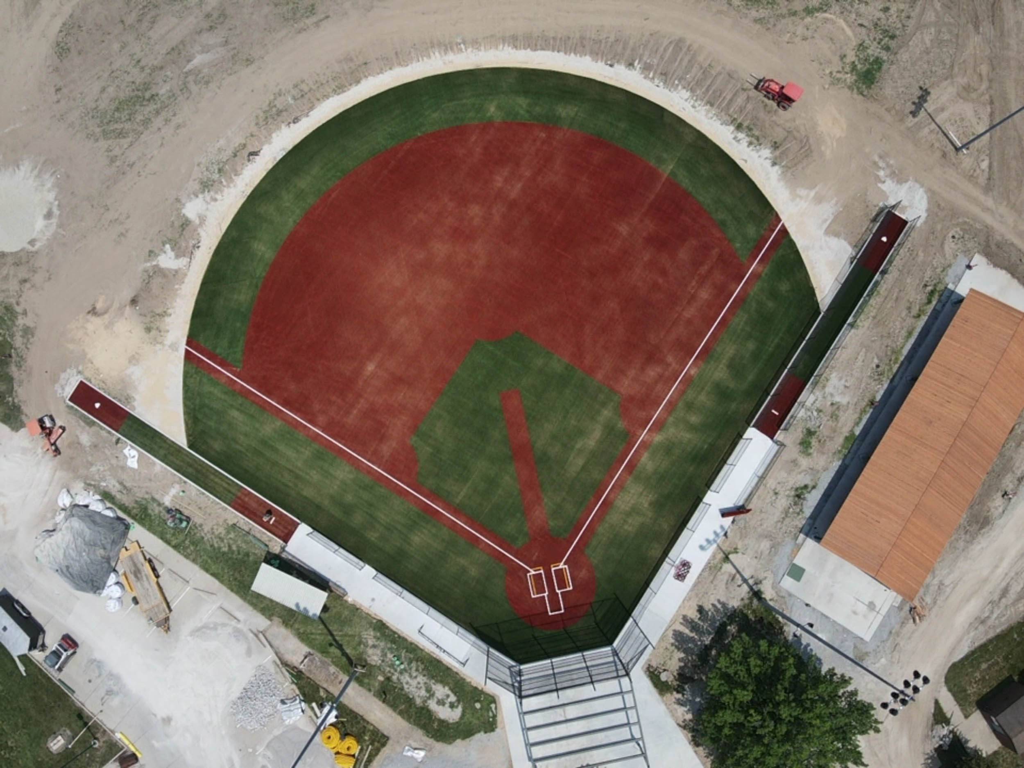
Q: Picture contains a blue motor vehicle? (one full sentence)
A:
No, no blue motor vehicle can be seen from above.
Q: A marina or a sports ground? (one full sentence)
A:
What you see here is a sports ground.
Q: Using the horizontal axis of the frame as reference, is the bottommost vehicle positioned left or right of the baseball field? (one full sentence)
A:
It is on the left side of the baseball field that the bottommost vehicle is positioned.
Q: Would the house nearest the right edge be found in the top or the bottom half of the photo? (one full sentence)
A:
The house nearest the right edge sits in the bottom half of the picture.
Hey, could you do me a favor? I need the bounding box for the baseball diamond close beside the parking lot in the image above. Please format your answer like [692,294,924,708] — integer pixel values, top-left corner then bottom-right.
[182,67,823,664]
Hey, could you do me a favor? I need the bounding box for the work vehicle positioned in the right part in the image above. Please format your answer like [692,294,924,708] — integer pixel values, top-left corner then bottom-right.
[745,76,805,112]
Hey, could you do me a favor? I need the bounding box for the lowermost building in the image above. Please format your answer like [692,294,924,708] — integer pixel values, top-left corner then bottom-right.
[982,676,1024,762]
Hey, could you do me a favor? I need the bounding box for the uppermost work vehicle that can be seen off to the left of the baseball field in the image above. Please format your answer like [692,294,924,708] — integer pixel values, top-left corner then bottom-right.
[27,412,67,457]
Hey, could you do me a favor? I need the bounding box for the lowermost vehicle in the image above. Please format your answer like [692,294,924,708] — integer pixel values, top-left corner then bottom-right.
[36,631,80,677]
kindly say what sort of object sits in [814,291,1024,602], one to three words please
building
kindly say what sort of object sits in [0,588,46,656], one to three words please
trailer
